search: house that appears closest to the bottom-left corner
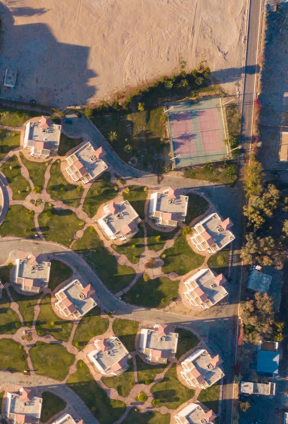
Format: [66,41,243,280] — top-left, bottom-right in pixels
[4,390,43,424]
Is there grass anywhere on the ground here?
Yes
